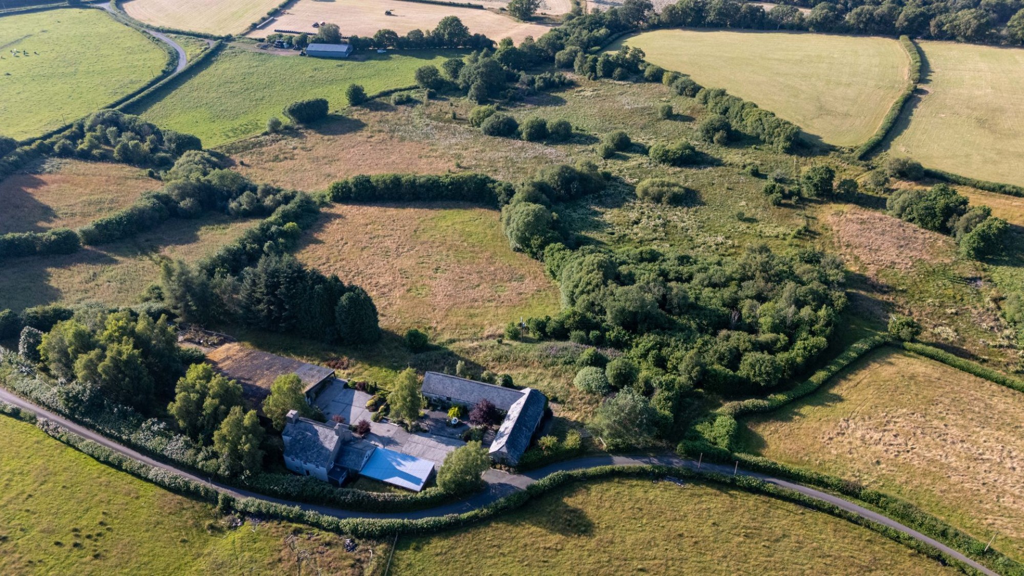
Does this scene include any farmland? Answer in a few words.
Yes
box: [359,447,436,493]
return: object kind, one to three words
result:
building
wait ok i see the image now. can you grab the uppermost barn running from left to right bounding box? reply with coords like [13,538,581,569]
[305,44,351,57]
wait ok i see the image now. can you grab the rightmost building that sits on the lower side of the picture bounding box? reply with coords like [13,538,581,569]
[422,372,549,470]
